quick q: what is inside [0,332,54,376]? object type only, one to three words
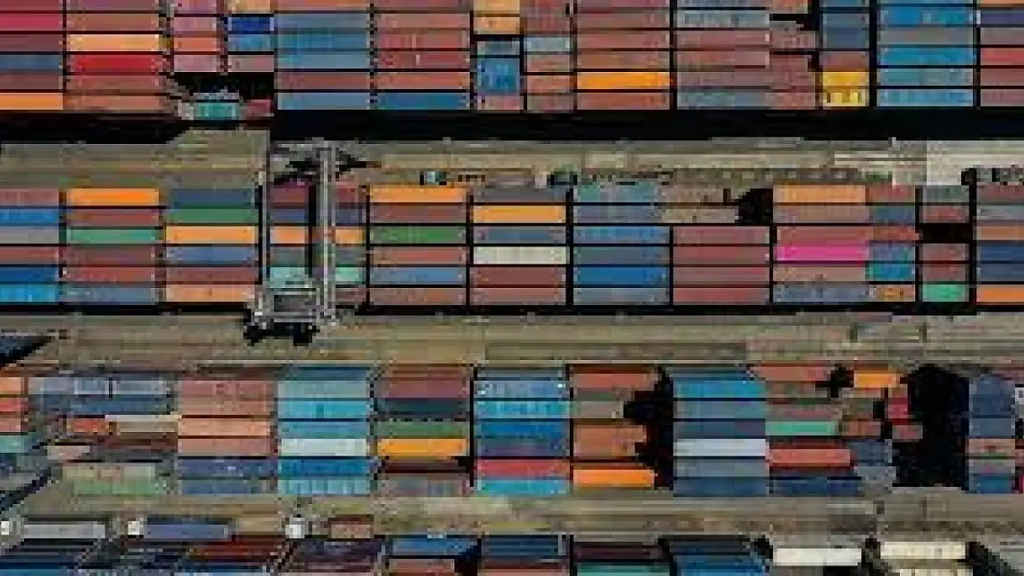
shipping container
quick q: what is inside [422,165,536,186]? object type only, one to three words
truck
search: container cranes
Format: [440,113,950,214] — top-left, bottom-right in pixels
[249,137,373,331]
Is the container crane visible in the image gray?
Yes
